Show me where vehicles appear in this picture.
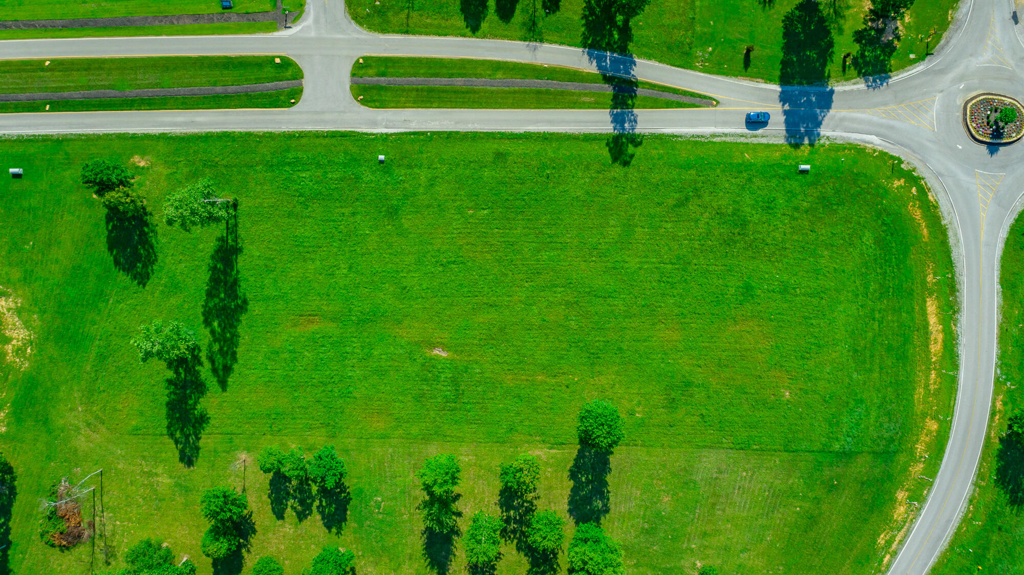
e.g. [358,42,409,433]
[745,112,769,123]
[221,0,231,10]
